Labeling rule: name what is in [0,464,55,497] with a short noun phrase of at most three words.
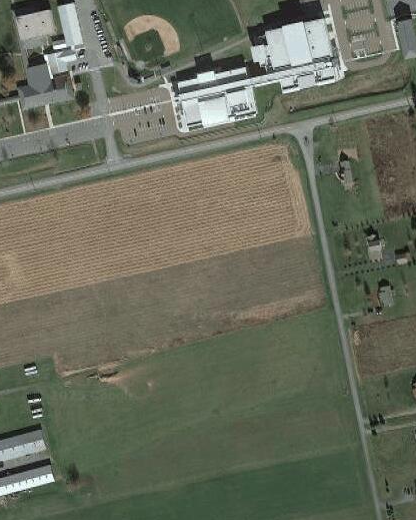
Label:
barn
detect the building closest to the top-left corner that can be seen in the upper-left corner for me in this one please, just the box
[15,9,57,40]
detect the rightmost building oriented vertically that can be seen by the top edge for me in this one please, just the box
[397,19,416,60]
